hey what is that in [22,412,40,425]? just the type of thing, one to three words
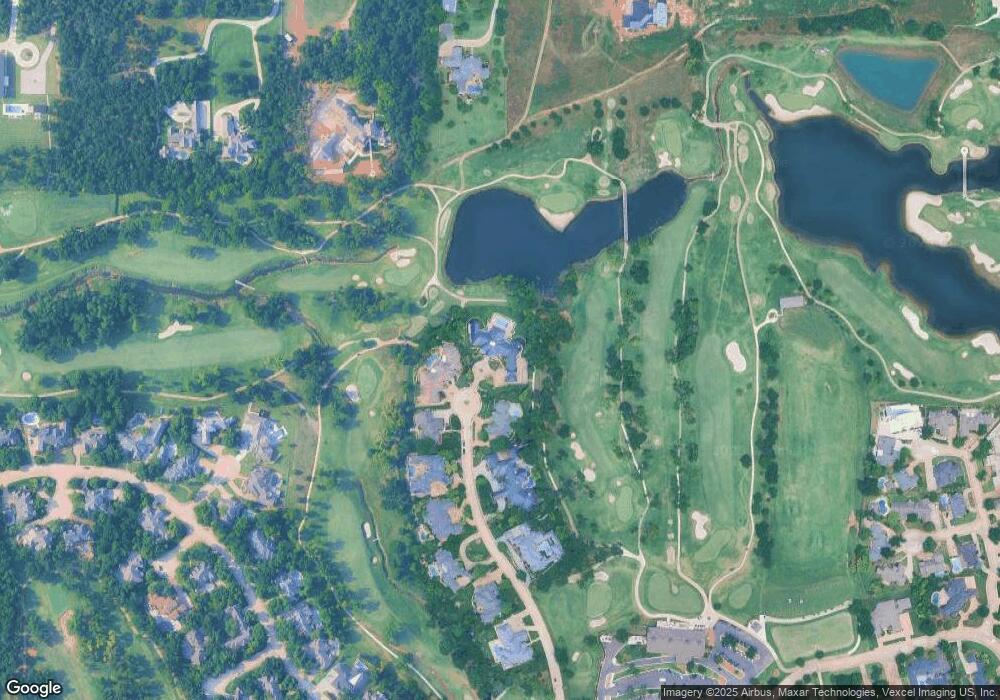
swimming pool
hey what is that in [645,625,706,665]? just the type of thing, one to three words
building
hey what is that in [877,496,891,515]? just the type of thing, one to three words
swimming pool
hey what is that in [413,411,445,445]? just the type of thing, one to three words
house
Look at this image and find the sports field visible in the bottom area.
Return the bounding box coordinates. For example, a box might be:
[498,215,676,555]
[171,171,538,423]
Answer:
[766,606,860,667]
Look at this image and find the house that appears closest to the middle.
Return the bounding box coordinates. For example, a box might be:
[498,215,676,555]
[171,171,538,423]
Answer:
[469,318,526,384]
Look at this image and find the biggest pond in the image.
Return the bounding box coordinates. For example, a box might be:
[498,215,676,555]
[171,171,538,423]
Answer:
[838,49,942,110]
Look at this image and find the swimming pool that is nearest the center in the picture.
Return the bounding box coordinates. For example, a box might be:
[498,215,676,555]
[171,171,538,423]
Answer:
[493,313,512,332]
